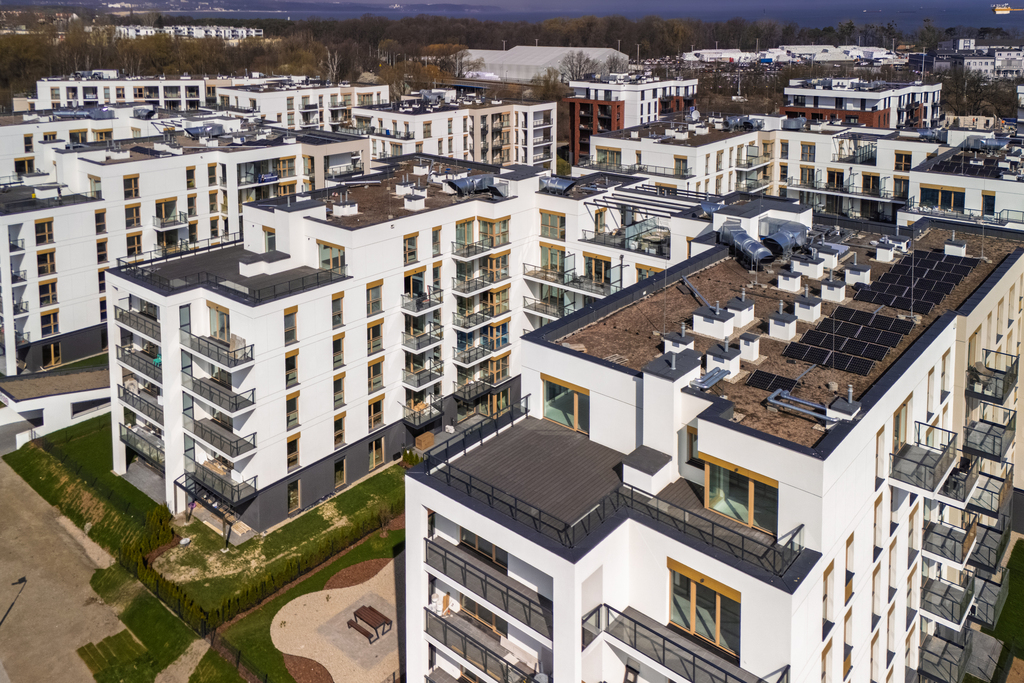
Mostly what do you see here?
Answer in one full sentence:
The largest share of the image is taken up by buildings.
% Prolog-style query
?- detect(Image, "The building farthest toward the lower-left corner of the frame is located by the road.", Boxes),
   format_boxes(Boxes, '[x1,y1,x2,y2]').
[0,370,113,433]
